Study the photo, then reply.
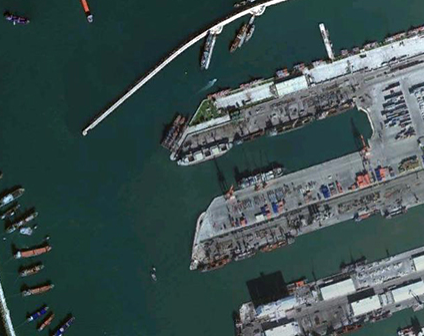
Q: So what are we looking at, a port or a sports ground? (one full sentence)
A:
The area seen from above is a port.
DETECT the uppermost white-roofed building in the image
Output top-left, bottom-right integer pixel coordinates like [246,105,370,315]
[310,58,354,83]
